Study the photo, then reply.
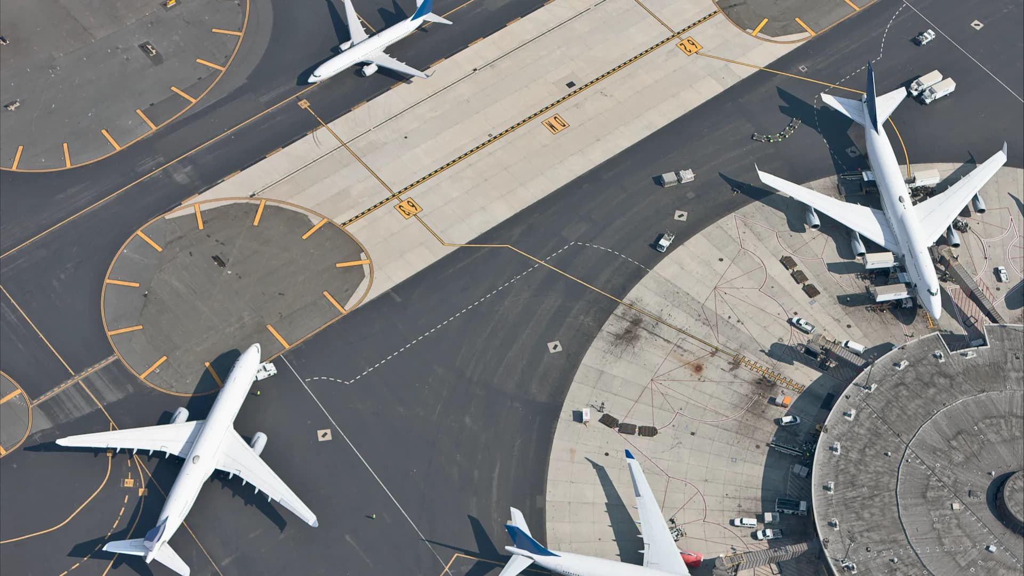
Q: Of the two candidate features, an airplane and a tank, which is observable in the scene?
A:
airplane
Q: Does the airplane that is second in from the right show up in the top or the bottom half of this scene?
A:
bottom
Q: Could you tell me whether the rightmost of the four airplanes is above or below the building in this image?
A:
above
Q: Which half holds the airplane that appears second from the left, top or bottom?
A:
top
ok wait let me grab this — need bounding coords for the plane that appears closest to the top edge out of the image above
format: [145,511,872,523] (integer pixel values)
[308,0,453,84]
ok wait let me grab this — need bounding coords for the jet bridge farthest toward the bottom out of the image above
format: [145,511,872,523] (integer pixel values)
[711,539,812,576]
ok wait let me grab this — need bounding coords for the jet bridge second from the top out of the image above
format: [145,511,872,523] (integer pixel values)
[802,334,865,382]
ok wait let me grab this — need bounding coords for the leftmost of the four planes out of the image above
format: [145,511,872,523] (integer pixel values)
[57,346,319,572]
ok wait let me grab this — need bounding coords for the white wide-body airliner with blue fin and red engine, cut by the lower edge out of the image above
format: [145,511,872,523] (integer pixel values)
[501,447,708,576]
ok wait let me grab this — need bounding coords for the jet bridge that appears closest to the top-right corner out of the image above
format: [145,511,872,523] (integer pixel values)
[927,242,1008,324]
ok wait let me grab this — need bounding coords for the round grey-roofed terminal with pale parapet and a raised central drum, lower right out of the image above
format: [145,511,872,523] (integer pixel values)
[809,322,1024,576]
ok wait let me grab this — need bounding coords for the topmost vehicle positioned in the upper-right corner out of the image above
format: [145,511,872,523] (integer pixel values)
[916,31,935,45]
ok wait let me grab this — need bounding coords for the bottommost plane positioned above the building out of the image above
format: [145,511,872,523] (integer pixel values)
[755,60,1011,322]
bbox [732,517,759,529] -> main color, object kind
white vehicle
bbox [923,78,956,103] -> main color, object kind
white truck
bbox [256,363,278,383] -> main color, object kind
white work vehicle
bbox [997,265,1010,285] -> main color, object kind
white vehicle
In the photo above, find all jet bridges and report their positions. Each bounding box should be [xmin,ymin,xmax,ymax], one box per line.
[802,334,865,382]
[711,539,812,576]
[927,242,1008,324]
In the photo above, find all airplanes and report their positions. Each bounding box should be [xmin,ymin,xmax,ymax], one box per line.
[755,60,1011,322]
[57,346,319,572]
[501,447,708,576]
[308,0,453,84]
